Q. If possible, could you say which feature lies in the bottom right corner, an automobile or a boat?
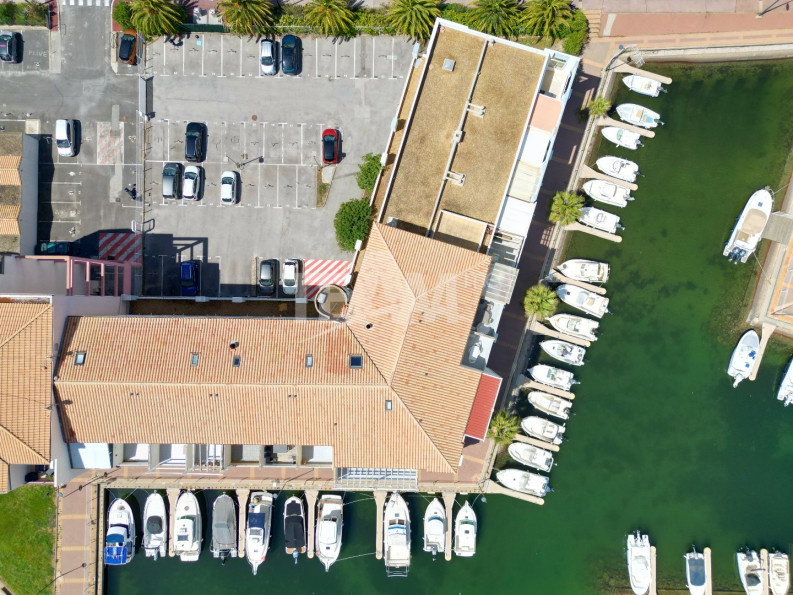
boat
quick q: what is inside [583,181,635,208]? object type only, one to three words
boat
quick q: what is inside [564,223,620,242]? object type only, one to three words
pier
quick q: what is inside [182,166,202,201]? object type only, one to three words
car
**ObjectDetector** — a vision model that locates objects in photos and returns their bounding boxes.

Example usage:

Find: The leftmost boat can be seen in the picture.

[101,498,138,568]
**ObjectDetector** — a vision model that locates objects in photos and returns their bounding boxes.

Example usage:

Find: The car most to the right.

[321,129,340,166]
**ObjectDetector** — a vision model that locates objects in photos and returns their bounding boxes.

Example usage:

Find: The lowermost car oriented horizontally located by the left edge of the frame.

[39,239,75,255]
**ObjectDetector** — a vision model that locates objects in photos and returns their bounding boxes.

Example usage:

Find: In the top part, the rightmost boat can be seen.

[719,183,775,268]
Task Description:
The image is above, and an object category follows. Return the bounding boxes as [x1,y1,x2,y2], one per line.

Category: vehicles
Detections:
[118,30,140,67]
[321,129,340,166]
[122,184,135,199]
[281,36,300,77]
[160,163,182,201]
[220,170,239,206]
[184,122,205,163]
[54,119,77,156]
[0,32,19,65]
[180,262,201,296]
[39,239,75,255]
[257,259,276,297]
[182,166,202,201]
[259,39,276,78]
[281,259,299,296]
